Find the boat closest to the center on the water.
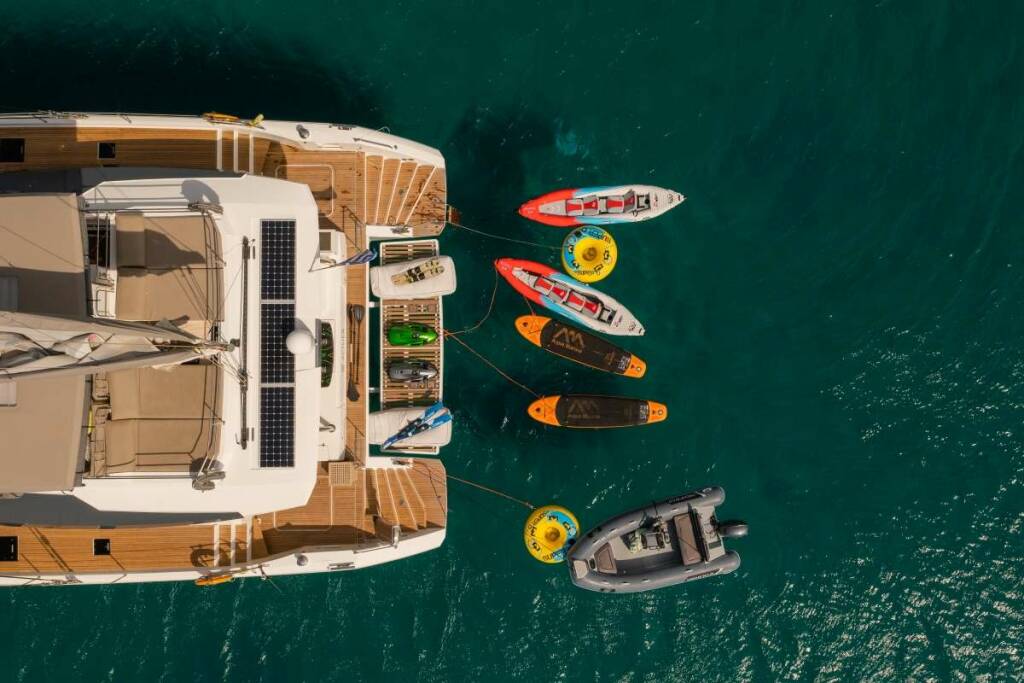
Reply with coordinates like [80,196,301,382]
[494,259,647,334]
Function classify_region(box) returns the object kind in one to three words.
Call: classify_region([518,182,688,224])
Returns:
boat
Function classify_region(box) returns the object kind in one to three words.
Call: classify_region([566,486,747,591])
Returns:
boat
